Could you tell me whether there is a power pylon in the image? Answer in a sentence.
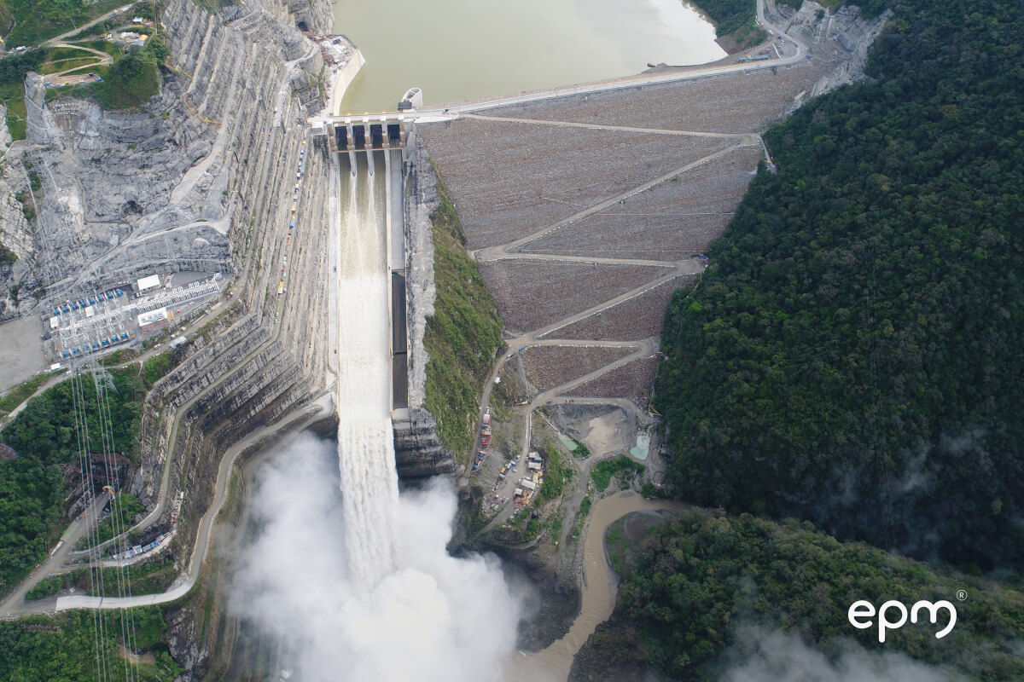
Yes, a power pylon is visible in the scene.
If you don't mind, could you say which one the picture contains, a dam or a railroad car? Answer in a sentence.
Looking from above, you can make out a dam.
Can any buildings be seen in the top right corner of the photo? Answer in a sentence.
No, no building is visible in the top right corner of the photo.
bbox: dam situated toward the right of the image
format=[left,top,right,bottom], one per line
[415,55,829,405]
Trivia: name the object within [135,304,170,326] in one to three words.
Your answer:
building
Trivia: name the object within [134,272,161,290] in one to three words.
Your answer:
building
